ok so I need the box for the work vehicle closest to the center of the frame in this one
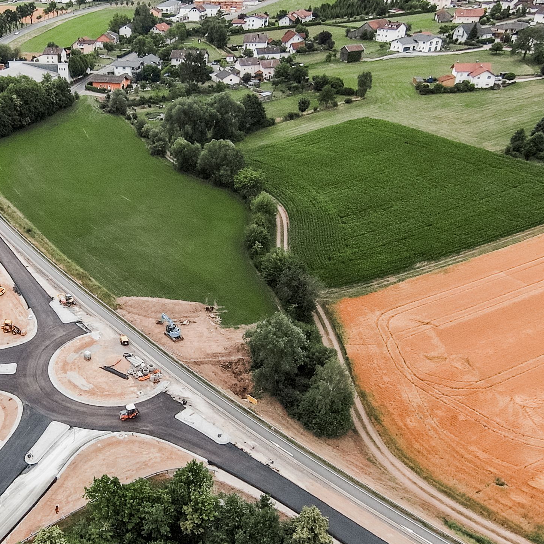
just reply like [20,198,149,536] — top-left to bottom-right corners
[154,305,186,345]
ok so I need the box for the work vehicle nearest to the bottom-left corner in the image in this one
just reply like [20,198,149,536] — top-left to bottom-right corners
[116,400,144,422]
